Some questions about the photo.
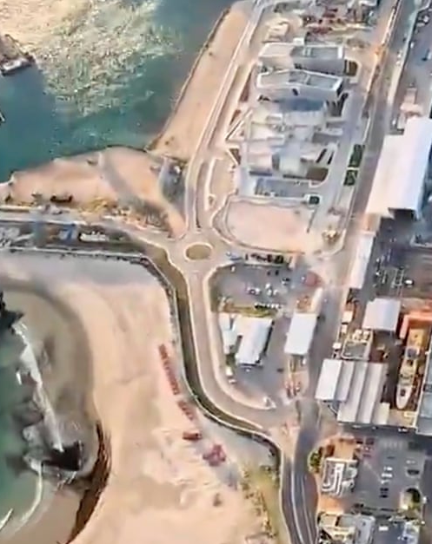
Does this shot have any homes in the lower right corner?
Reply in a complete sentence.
Yes, the scene does show a home in the lower right corner.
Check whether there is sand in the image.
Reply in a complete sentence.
Yes, sand can be seen from above here.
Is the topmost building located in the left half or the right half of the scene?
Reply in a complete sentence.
You can find the topmost building on the right side of the picture.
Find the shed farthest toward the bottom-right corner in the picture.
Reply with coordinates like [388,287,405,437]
[402,520,421,544]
